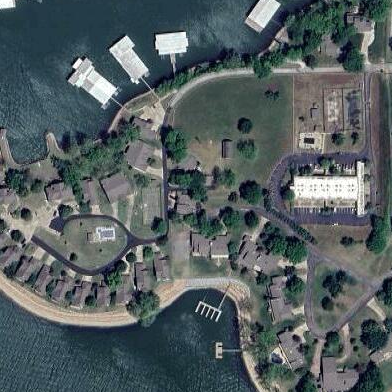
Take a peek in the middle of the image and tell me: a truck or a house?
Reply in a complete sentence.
The feature located in the middle of the image is a house.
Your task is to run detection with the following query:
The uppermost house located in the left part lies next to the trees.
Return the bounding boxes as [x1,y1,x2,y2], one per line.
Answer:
[130,114,160,142]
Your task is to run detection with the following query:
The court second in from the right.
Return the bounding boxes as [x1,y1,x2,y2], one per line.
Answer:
[324,89,342,130]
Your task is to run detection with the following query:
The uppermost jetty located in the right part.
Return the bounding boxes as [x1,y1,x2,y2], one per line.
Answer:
[246,0,281,31]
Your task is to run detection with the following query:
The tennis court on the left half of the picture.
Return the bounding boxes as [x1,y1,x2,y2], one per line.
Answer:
[143,189,161,225]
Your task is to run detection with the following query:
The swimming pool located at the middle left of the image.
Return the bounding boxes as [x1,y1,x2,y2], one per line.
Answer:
[92,228,115,241]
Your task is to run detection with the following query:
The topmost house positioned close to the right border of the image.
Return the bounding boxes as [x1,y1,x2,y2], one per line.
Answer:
[346,13,374,33]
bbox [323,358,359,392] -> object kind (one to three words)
house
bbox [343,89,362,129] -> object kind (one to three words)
tennis court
